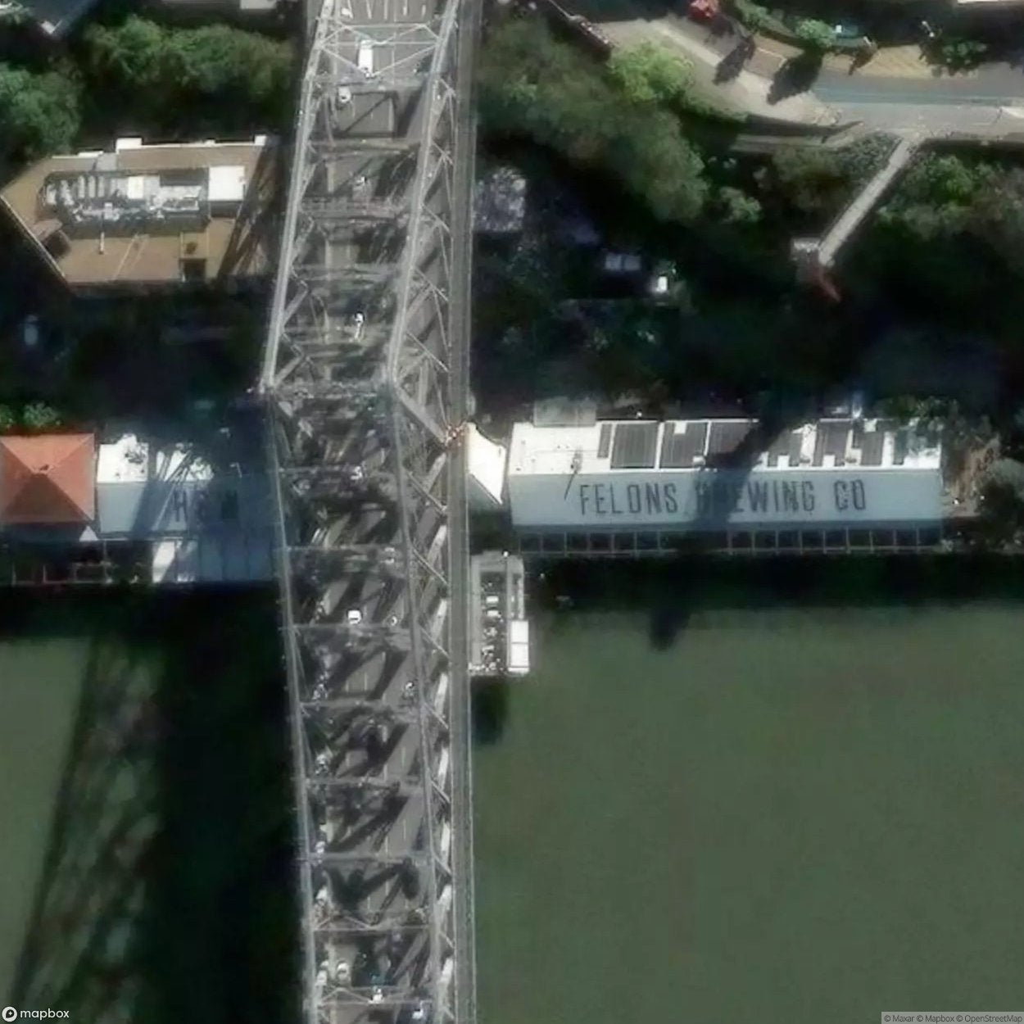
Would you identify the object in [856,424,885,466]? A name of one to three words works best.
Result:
solar panel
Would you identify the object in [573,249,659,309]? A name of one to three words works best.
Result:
building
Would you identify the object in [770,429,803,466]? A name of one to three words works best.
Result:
solar panel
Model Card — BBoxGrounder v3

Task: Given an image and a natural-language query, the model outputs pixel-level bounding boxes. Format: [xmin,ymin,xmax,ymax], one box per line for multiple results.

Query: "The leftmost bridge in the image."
[258,0,483,1024]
